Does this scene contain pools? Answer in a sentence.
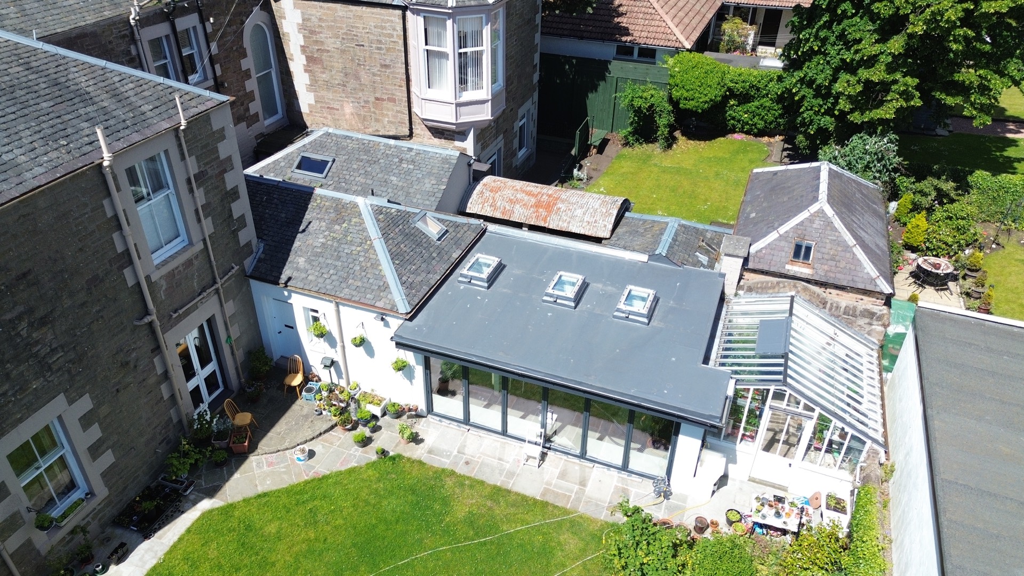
No, the photo shows no pool.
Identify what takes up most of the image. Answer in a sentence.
The scene is dominated by buildings.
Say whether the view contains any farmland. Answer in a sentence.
No, there is no farmland in the image.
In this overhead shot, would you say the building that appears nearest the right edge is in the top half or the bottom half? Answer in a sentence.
You can find the building that appears nearest the right edge in the bottom half.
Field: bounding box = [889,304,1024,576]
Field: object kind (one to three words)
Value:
building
